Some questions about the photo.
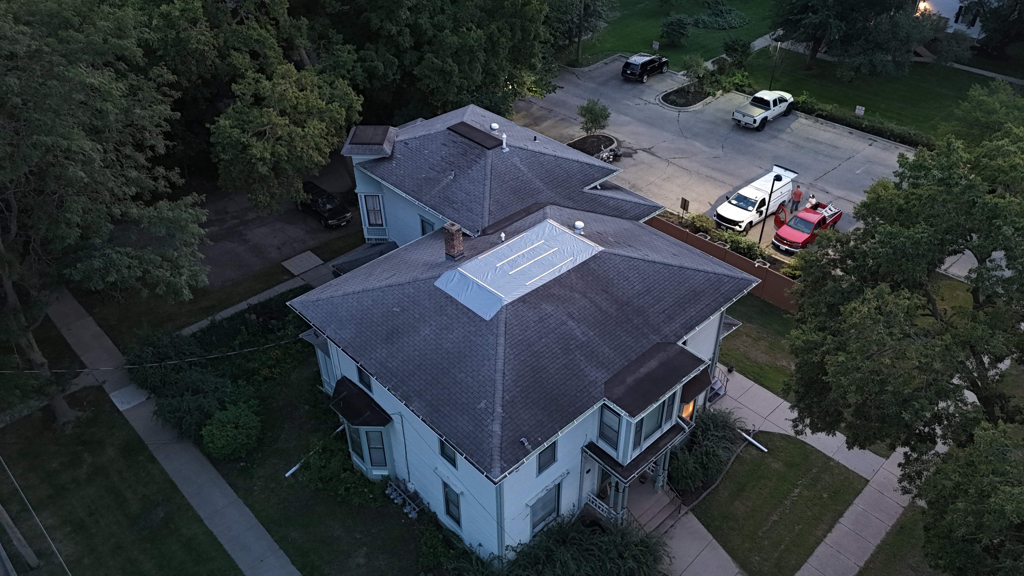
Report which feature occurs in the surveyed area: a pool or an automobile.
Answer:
automobile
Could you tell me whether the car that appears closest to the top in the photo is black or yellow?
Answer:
black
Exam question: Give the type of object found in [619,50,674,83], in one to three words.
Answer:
car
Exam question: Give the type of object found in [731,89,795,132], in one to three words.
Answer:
truck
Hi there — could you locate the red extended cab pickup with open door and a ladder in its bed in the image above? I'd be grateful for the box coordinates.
[771,201,844,254]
